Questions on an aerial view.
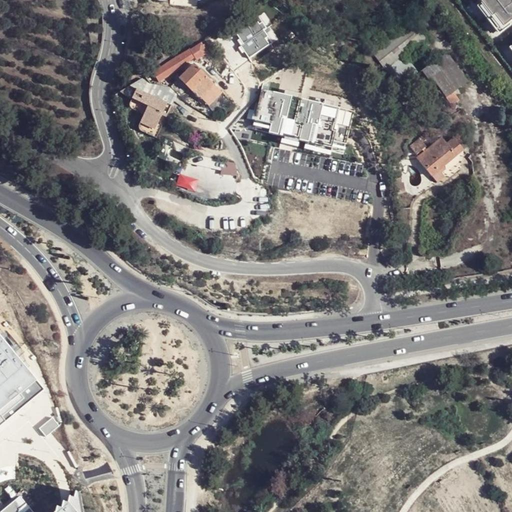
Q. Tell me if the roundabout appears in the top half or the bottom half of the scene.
bottom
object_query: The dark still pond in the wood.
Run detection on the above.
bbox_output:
[239,418,297,494]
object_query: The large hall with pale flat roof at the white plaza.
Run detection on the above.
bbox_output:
[0,334,42,424]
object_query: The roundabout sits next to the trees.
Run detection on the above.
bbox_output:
[66,292,230,452]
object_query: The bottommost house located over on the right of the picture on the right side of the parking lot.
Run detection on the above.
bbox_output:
[410,136,468,182]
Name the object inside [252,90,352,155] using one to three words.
building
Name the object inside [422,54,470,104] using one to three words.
barn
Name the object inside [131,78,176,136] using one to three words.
house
